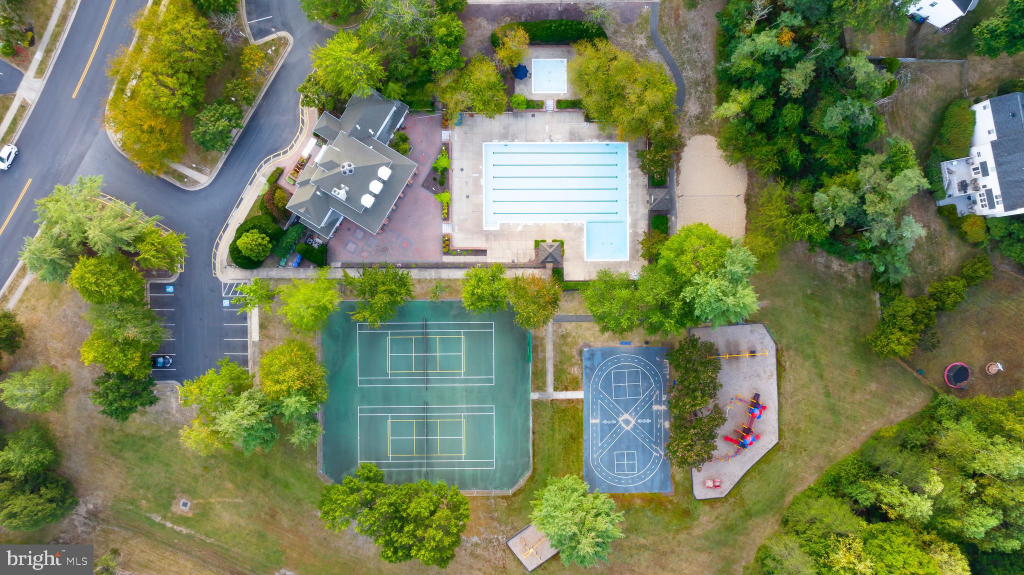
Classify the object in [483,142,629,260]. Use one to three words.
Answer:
swimming pool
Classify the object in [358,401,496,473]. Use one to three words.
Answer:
tennis court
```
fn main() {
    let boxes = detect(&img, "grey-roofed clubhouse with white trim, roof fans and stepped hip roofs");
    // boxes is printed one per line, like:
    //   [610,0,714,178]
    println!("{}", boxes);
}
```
[285,84,418,239]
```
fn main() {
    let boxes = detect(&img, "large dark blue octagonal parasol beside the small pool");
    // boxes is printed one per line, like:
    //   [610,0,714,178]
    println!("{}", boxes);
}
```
[513,64,529,80]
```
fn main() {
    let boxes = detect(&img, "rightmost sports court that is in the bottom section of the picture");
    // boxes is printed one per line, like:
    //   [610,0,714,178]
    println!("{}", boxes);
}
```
[583,347,671,493]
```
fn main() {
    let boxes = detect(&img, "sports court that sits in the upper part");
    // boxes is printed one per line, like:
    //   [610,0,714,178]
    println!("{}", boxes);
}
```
[677,135,747,249]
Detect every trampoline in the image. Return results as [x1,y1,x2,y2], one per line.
[945,362,975,389]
